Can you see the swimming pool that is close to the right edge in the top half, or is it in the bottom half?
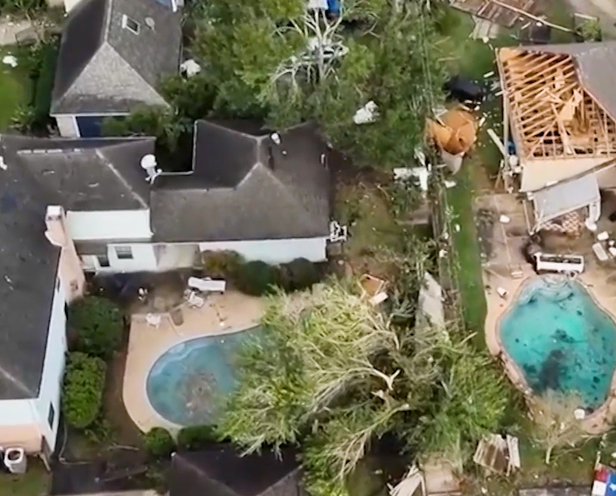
bottom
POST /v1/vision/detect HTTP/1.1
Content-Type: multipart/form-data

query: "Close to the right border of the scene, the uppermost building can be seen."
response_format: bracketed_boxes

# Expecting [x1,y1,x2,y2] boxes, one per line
[496,41,616,191]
